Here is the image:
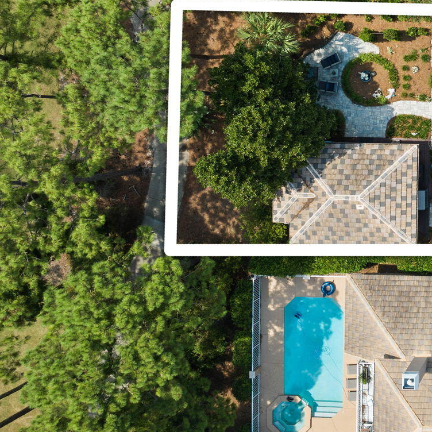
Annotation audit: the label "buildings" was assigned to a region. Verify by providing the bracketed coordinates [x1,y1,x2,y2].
[272,142,421,250]
[341,271,432,432]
